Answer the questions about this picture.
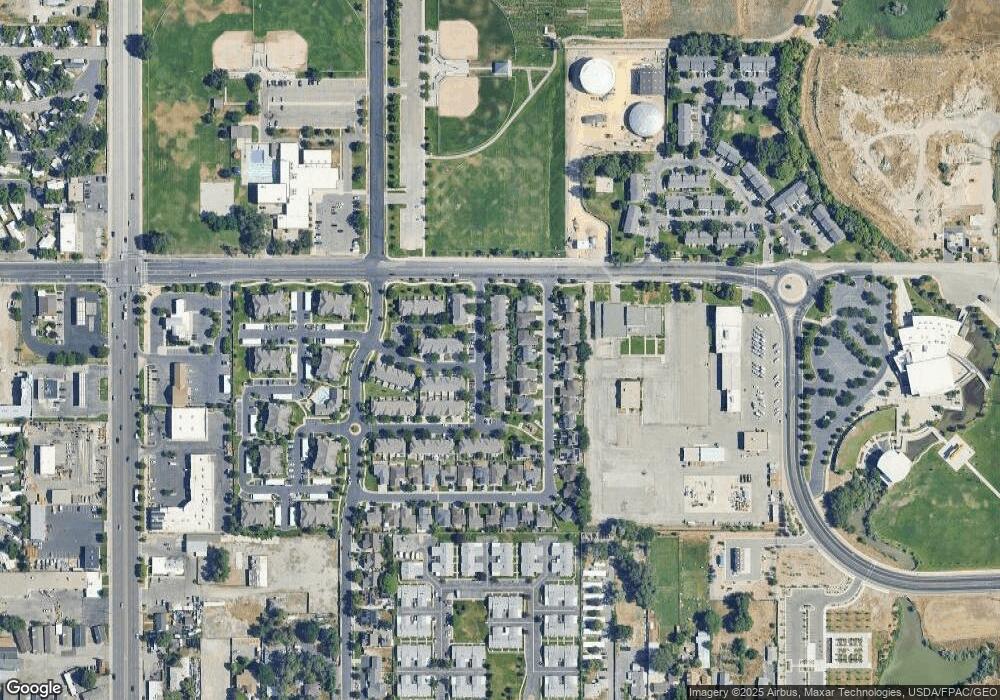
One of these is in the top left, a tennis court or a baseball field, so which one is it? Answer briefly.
baseball field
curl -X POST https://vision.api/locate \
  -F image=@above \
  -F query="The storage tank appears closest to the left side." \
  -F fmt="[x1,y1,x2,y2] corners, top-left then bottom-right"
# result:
[580,59,616,96]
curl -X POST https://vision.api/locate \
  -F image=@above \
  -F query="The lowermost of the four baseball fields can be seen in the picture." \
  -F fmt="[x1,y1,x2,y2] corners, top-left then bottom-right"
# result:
[433,74,480,118]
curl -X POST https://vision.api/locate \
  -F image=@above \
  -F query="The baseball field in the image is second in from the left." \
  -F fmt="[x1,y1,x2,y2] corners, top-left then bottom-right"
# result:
[264,31,308,72]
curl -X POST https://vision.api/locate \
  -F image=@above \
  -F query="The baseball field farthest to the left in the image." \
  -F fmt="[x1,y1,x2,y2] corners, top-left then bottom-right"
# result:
[212,31,256,72]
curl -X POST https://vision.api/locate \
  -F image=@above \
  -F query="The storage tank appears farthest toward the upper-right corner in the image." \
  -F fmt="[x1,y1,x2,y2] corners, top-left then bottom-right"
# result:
[629,103,664,139]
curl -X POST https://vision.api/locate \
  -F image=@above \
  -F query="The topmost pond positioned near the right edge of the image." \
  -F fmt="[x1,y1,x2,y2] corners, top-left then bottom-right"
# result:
[940,330,992,431]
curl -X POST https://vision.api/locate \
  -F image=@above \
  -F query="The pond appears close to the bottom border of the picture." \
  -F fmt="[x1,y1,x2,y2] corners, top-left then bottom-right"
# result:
[876,597,978,700]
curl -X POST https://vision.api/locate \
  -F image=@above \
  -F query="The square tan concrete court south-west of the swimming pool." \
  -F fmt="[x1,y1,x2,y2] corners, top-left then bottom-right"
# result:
[201,182,234,216]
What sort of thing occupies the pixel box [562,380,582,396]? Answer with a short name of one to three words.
house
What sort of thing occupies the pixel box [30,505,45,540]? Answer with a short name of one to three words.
shed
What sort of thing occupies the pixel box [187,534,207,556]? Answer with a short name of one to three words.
building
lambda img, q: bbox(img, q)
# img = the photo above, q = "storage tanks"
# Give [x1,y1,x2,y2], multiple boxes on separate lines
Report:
[580,59,616,96]
[629,103,664,139]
